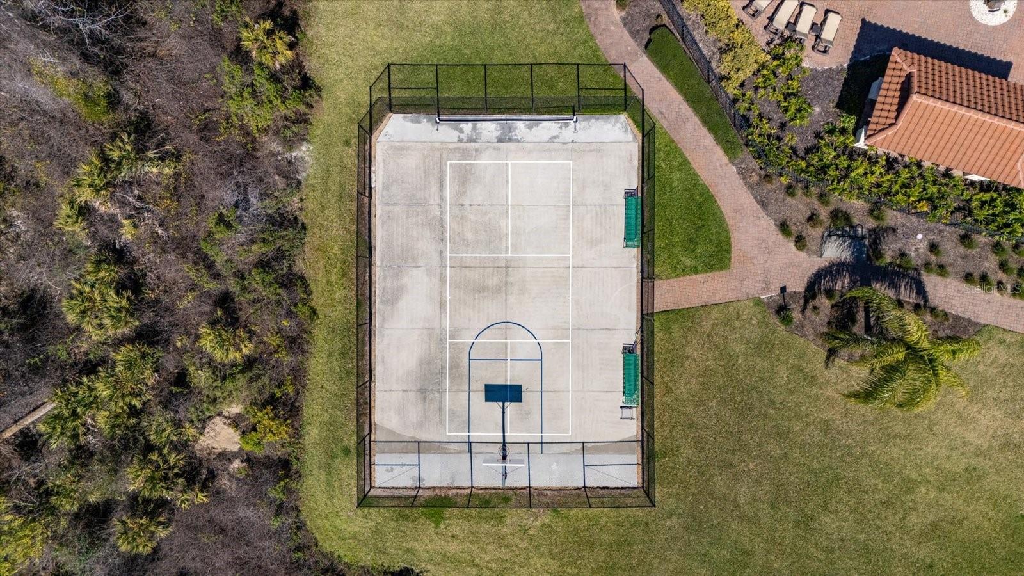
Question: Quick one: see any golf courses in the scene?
No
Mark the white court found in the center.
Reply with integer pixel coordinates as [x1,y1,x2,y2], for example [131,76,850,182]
[374,115,639,487]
